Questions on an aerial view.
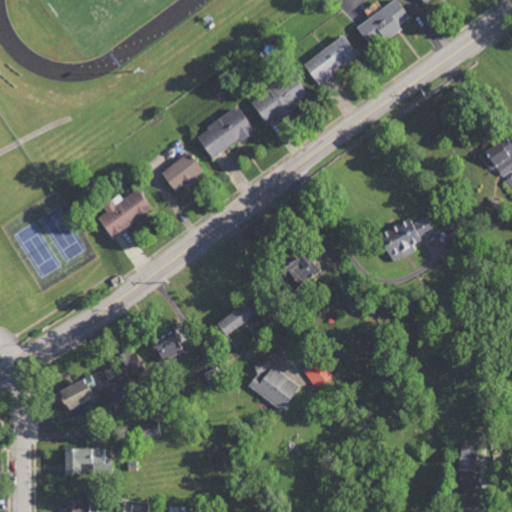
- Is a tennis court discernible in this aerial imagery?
Yes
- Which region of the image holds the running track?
top left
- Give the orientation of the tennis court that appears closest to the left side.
on a diagonal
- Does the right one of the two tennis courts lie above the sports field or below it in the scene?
below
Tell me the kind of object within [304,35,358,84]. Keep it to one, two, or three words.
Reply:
house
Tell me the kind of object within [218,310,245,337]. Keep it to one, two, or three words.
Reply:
building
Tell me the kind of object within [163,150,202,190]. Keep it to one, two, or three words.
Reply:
house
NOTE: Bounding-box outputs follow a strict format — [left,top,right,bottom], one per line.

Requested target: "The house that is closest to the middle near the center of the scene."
[284,253,322,287]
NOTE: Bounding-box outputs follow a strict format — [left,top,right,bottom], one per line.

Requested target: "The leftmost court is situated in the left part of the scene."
[14,224,61,278]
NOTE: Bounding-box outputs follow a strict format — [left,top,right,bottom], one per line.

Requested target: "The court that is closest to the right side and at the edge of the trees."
[40,208,86,262]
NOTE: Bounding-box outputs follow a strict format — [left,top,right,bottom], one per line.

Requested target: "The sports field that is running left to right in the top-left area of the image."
[5,0,182,62]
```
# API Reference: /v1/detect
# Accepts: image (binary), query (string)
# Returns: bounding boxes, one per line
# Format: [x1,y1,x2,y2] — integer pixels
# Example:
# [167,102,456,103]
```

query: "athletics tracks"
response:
[0,0,216,82]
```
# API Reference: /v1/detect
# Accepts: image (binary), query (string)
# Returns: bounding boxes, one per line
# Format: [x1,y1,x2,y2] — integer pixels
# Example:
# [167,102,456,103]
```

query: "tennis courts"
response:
[14,224,61,278]
[40,208,86,262]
